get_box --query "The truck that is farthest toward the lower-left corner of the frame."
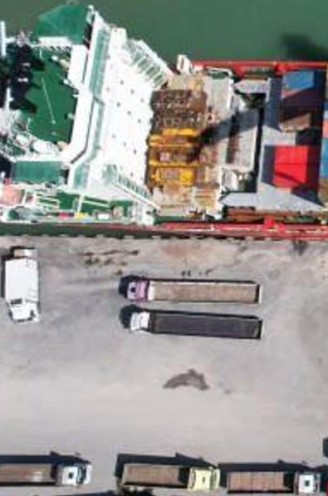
[0,459,104,487]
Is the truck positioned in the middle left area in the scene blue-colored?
No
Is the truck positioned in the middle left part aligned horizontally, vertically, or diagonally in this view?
vertically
